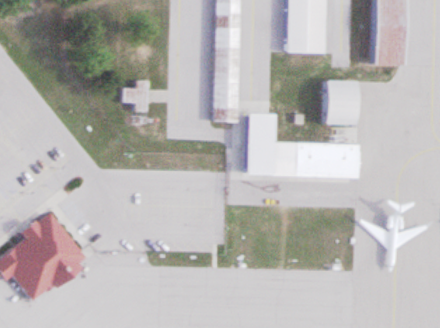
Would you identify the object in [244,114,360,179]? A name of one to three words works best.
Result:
hangar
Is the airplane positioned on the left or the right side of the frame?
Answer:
right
